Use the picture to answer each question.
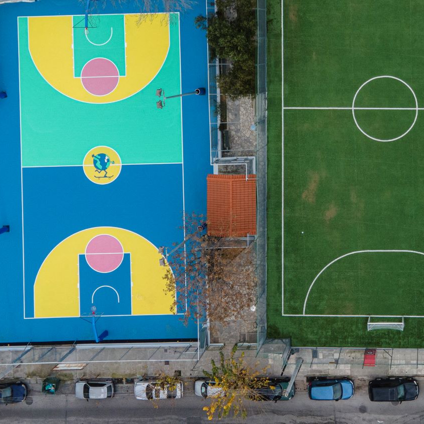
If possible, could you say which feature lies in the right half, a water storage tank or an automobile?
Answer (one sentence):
The feature located in the right half is an automobile.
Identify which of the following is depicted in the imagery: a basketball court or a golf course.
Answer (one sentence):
This aerial view contains a basketball court.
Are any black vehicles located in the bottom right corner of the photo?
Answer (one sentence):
Yes, there is a black vehicle in the bottom right corner of the photo.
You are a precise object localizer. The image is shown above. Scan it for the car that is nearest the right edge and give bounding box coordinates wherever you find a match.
[367,379,418,406]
